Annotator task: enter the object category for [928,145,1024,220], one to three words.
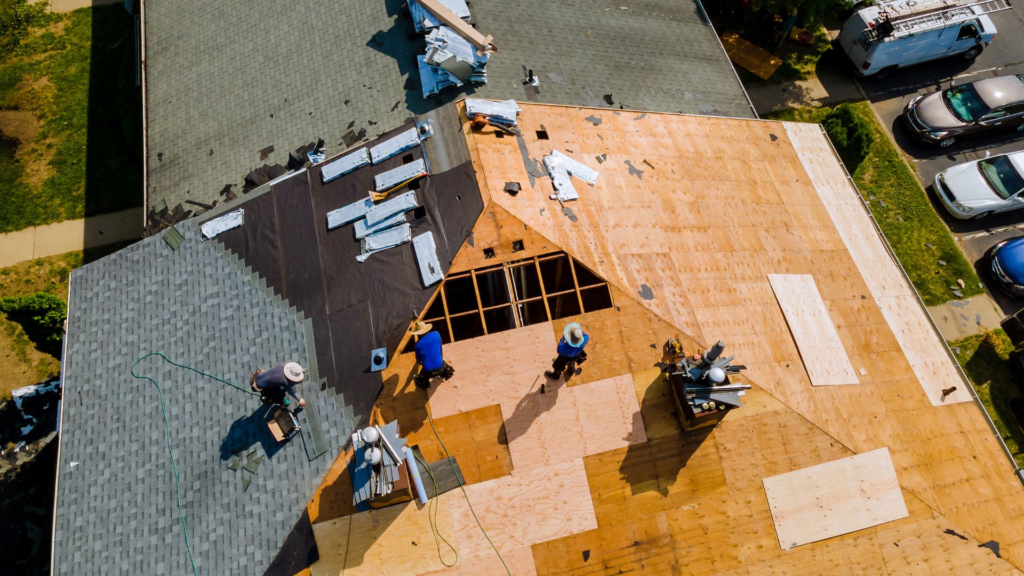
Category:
car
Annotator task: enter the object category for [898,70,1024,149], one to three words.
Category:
car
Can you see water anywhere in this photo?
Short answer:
No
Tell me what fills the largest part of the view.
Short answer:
buildings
